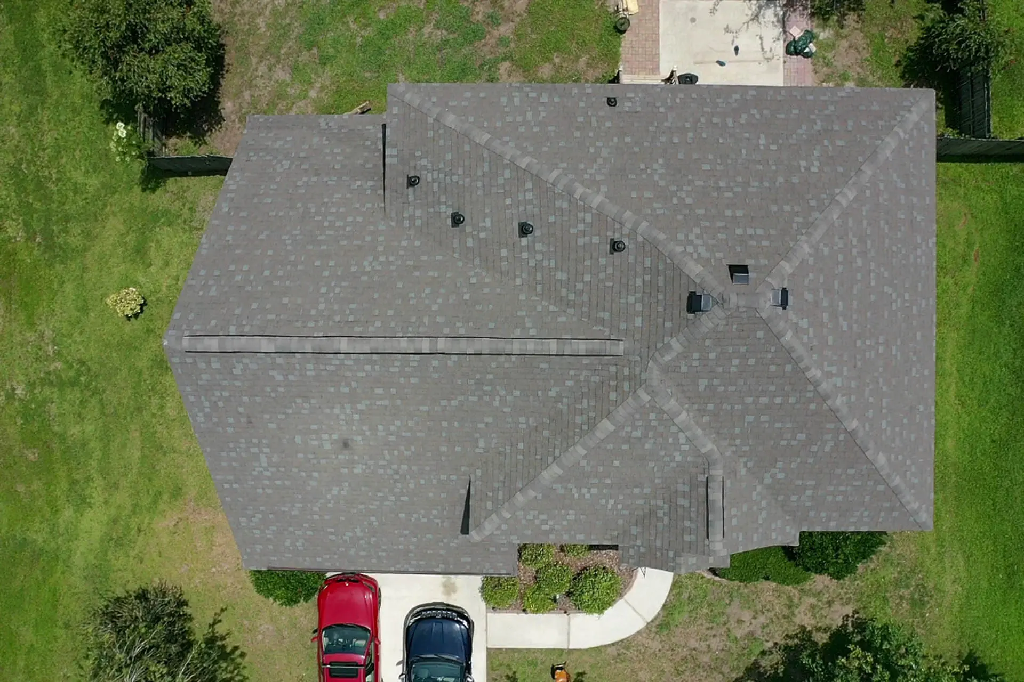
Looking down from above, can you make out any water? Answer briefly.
No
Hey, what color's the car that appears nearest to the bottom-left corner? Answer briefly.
red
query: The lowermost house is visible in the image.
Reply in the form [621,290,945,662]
[165,82,937,577]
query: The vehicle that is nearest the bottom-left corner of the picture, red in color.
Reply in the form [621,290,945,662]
[306,574,381,682]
